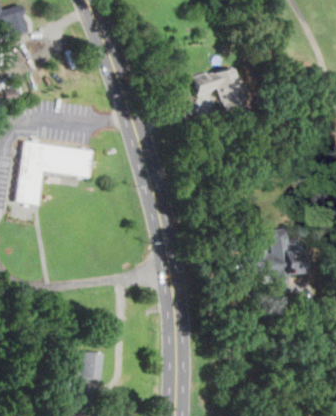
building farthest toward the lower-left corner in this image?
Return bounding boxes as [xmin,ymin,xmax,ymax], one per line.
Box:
[82,352,105,380]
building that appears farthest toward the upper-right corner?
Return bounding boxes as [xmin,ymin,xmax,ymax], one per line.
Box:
[194,66,242,108]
